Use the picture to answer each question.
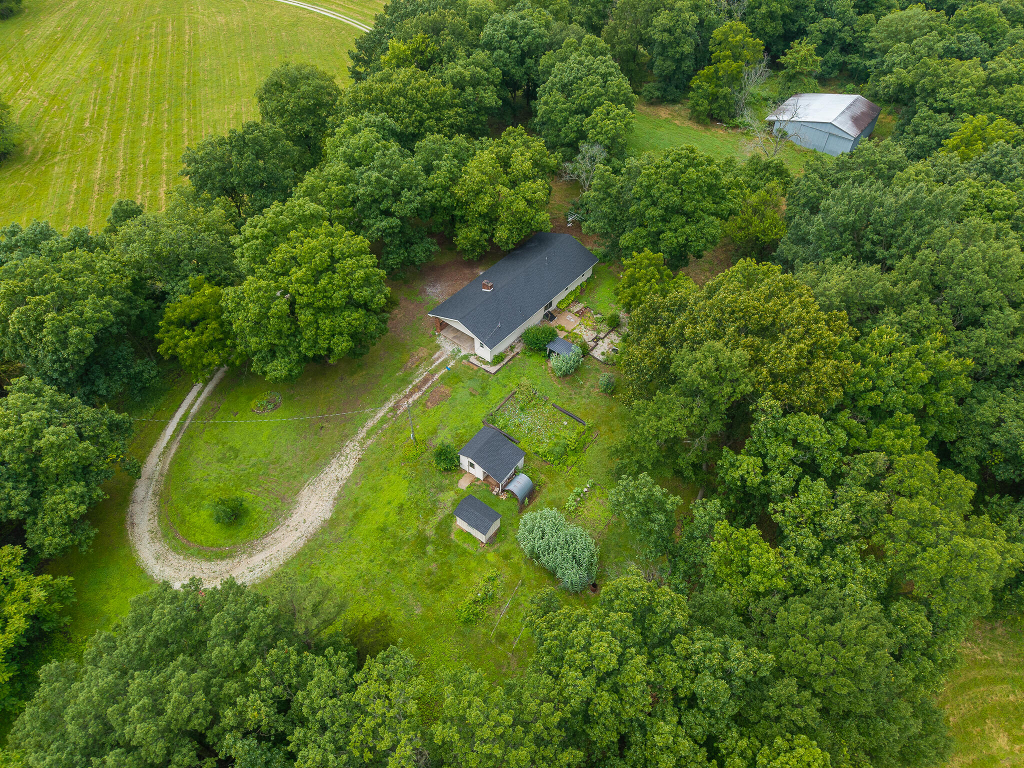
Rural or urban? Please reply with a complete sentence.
This place is rural.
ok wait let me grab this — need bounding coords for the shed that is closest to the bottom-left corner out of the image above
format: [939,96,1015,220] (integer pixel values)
[453,496,502,544]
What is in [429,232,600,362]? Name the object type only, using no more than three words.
house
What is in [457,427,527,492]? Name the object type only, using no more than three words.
shed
